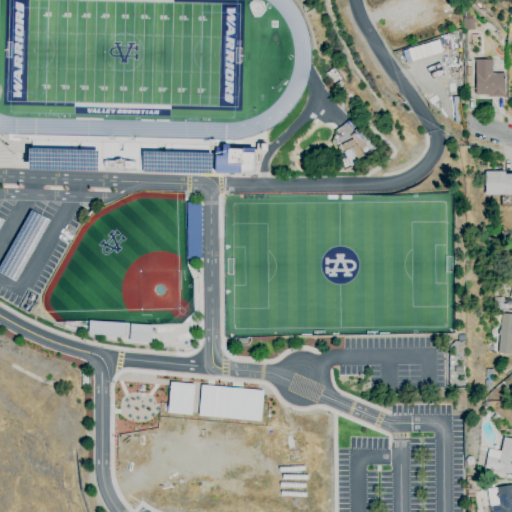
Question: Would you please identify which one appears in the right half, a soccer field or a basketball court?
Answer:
soccer field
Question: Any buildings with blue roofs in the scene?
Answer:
Yes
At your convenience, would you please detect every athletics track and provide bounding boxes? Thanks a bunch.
[0,0,312,140]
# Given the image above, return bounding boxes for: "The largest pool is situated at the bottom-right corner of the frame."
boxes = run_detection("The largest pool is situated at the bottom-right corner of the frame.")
[483,420,496,446]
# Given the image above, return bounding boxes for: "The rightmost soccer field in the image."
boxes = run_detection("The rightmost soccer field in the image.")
[226,193,455,337]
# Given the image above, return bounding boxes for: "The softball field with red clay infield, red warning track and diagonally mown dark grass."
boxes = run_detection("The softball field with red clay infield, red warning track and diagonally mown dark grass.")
[44,192,194,324]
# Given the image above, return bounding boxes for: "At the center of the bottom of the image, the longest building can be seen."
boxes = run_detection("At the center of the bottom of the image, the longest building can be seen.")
[200,385,264,422]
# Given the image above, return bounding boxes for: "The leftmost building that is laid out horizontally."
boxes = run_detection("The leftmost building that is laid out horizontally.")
[89,321,130,338]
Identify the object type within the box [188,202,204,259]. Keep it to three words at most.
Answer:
building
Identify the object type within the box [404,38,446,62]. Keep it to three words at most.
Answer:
shed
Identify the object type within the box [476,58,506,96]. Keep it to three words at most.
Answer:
house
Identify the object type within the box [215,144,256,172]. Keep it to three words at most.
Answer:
building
